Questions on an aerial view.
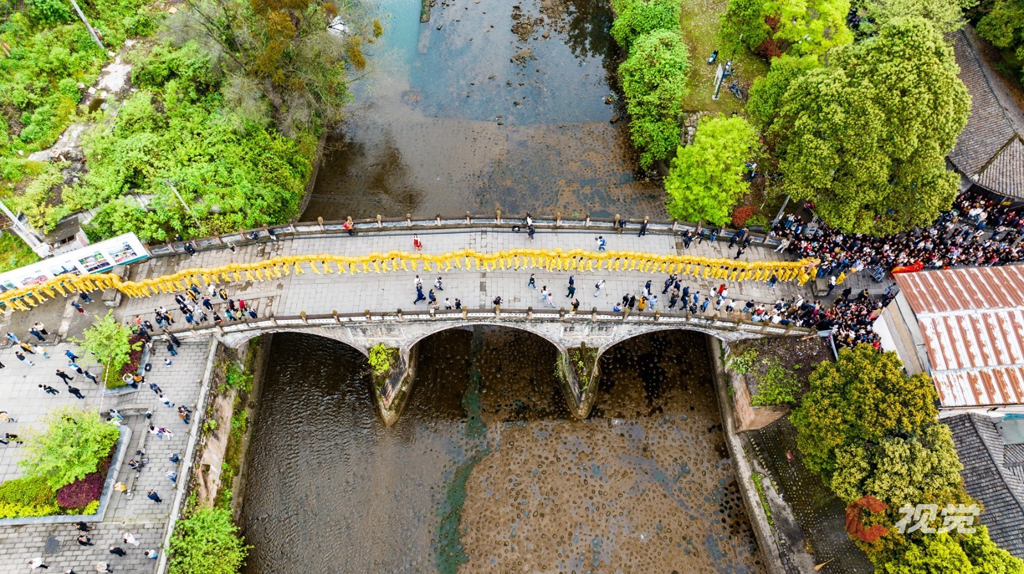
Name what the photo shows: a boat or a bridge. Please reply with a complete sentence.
There is a bridge in the scene.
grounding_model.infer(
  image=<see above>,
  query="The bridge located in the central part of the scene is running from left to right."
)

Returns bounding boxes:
[113,214,887,425]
